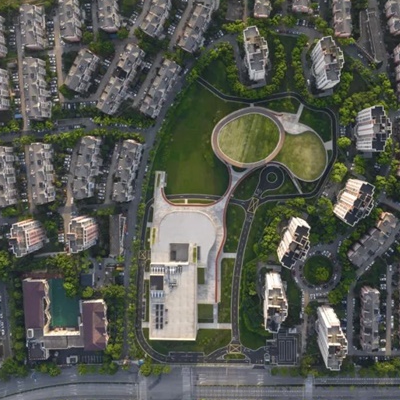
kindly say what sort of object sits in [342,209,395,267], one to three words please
building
